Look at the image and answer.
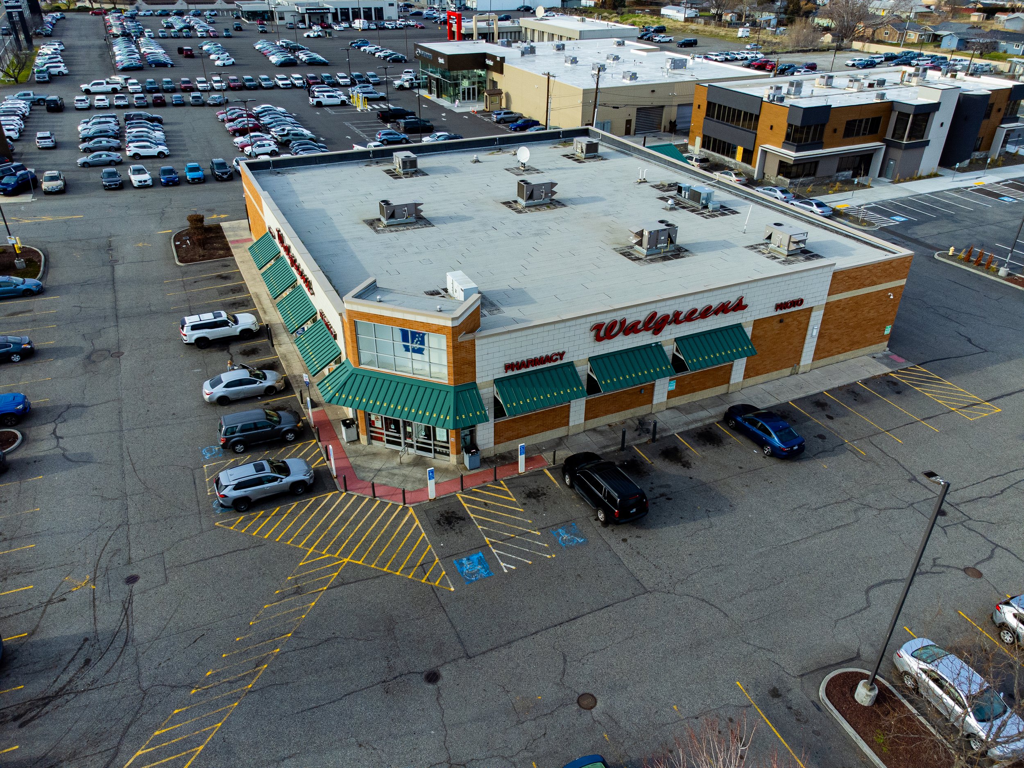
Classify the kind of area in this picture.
parking lot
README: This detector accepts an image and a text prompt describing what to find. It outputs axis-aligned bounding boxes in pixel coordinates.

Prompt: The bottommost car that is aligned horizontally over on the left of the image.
[215,459,314,512]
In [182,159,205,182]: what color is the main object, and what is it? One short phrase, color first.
blue car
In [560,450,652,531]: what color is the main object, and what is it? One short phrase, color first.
black car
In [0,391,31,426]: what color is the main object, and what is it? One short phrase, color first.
blue truck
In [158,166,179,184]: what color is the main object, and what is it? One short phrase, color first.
blue car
